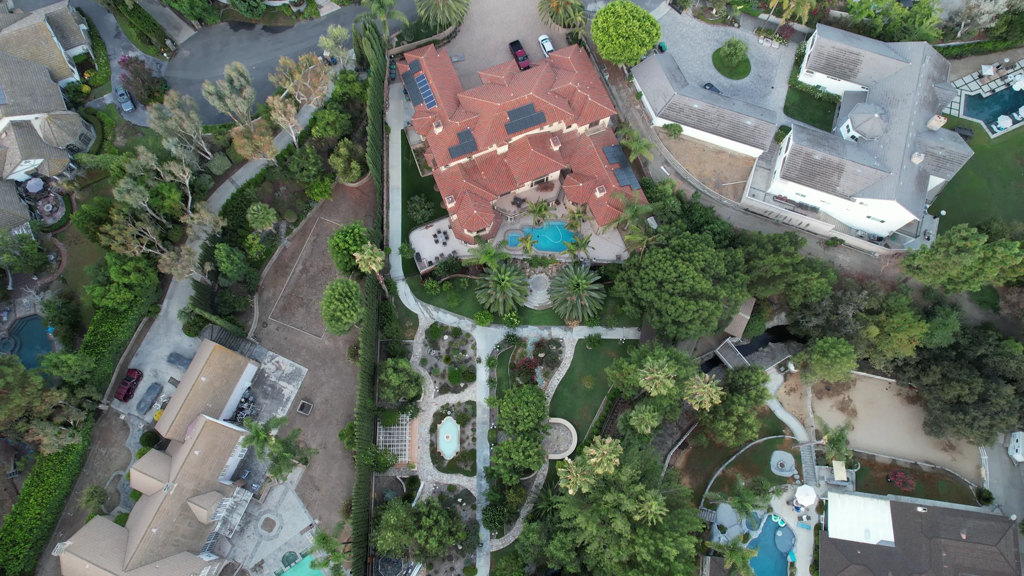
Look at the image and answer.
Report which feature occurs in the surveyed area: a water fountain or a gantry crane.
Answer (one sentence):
Visible in the photo is a water fountain.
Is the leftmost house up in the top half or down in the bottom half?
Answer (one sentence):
You can find the leftmost house in the top half.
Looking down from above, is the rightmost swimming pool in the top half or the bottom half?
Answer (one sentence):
Seen from above, the rightmost swimming pool lies in the top half of the view.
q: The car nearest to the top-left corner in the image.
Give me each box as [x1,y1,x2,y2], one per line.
[111,80,134,112]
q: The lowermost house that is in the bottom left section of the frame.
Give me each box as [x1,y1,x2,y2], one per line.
[53,414,247,576]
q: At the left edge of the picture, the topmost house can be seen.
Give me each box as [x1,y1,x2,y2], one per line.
[0,0,97,233]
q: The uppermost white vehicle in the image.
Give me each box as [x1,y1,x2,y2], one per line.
[539,31,555,59]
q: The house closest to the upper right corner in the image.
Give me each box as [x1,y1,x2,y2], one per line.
[770,23,974,232]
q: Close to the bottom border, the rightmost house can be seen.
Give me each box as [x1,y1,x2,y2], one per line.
[811,487,1022,576]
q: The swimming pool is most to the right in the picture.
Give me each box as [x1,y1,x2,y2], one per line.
[966,85,1024,130]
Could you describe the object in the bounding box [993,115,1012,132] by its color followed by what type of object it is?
white umbrella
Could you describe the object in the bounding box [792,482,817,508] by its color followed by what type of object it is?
white umbrella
